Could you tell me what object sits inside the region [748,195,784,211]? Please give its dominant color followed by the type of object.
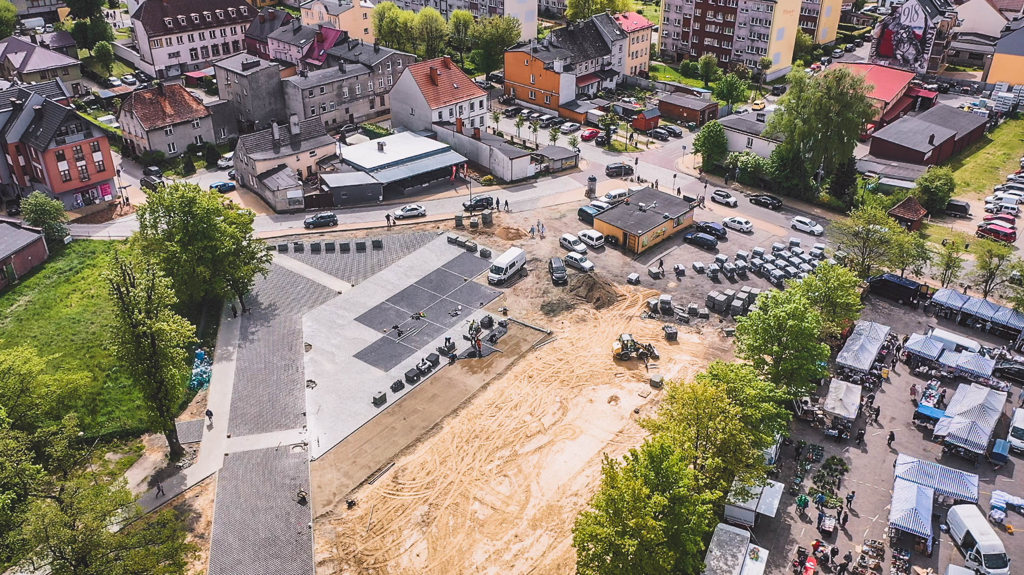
black car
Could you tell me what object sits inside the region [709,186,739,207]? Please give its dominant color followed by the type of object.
white car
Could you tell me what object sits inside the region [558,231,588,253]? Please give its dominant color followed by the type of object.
white car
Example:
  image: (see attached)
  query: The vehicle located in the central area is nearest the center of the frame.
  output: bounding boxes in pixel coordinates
[489,243,524,282]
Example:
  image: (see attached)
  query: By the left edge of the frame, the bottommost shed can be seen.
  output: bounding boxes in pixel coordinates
[0,214,49,282]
